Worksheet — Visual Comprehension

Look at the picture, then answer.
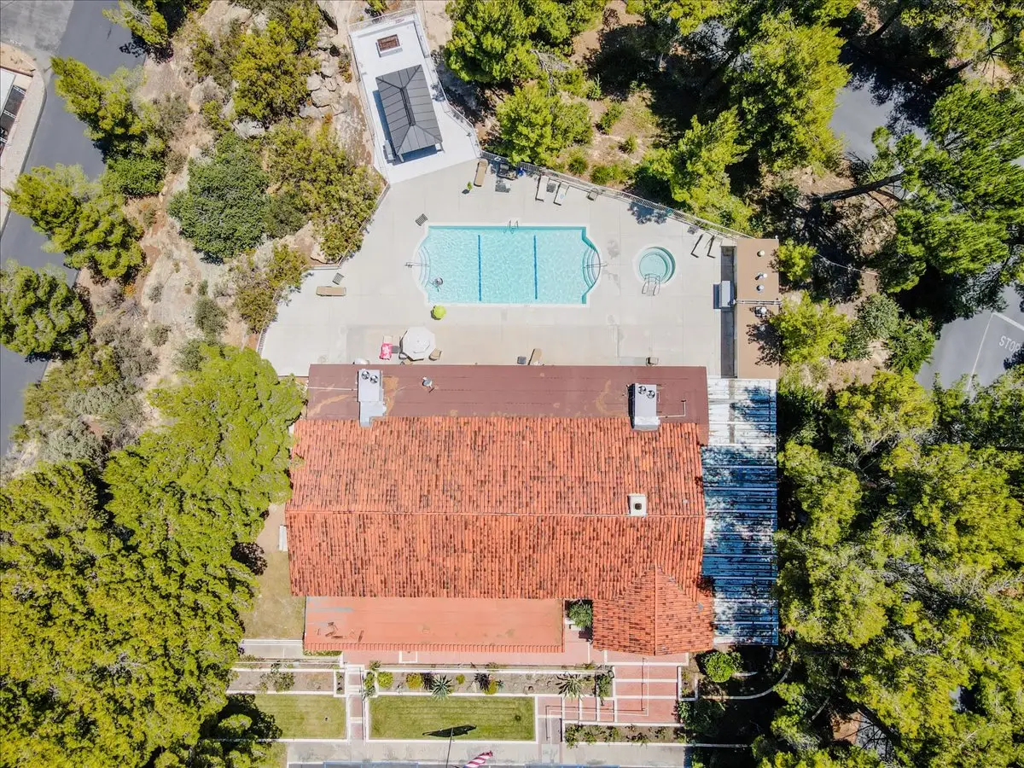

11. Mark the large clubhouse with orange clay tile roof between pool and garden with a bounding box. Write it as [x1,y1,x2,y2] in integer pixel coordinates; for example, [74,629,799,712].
[284,365,715,659]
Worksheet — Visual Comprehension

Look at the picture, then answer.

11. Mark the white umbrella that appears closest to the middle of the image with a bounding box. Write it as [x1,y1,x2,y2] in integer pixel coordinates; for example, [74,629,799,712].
[398,326,431,360]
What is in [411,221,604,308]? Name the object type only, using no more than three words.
swimming pool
